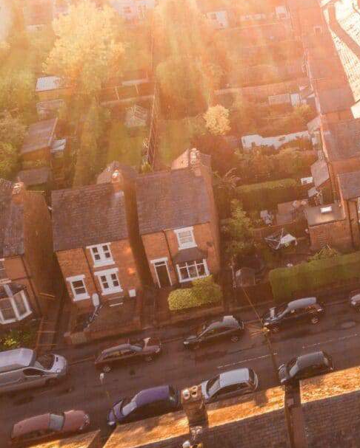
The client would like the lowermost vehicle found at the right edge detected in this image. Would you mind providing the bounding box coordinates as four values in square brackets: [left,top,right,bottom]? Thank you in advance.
[283,351,344,390]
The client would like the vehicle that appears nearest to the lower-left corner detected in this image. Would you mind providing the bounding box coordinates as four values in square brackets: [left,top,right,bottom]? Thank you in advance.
[9,418,79,448]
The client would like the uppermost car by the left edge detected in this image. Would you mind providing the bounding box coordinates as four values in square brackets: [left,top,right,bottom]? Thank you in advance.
[0,346,63,392]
